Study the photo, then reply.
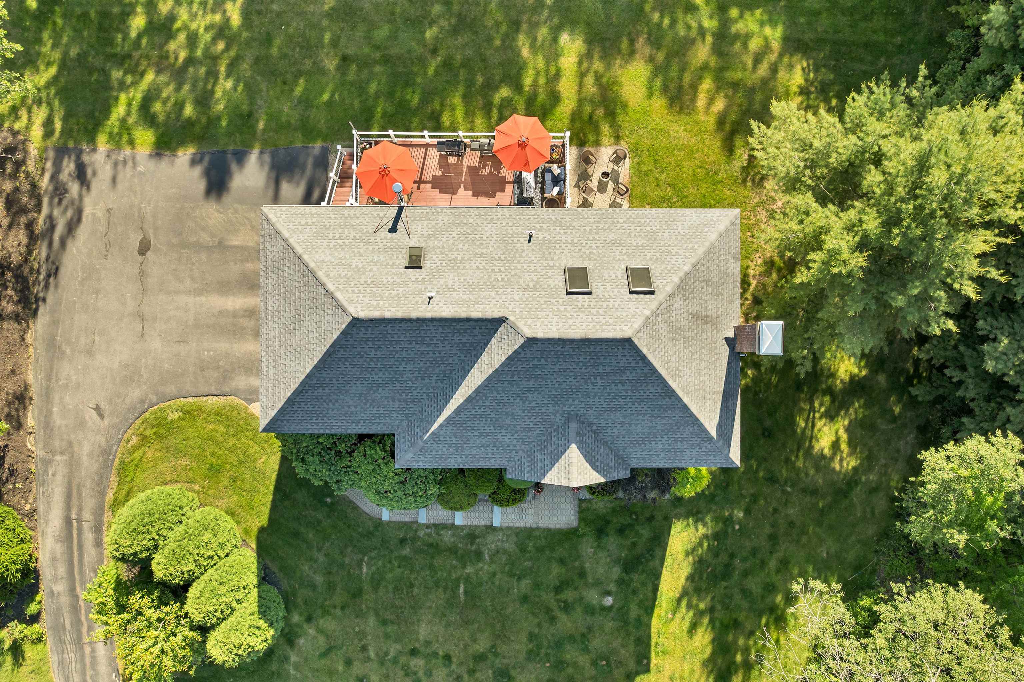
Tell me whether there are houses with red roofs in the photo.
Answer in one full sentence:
No, no house with a red roof is visible in the scene.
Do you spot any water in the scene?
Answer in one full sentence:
No, water can't be seen anywhere here.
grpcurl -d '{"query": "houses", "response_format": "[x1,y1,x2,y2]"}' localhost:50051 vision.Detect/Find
[258,185,781,487]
